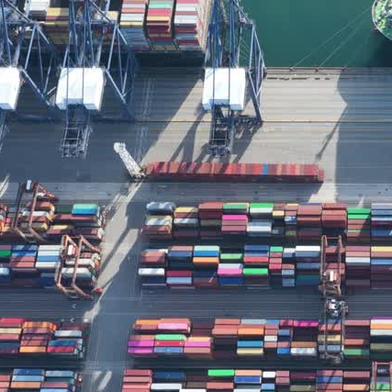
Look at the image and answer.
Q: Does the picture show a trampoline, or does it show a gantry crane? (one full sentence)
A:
Looking from above, you can make out a gantry crane.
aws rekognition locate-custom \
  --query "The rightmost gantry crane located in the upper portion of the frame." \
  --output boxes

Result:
[202,0,269,161]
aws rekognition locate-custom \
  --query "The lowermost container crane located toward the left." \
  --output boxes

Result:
[55,237,99,301]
